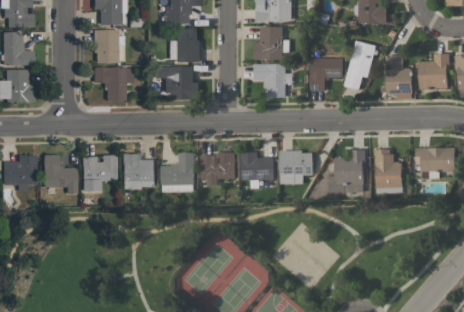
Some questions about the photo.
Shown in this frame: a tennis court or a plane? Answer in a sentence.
It is a tennis court that can be seen here.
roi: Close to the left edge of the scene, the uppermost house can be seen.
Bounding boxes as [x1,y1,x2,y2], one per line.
[0,0,36,28]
